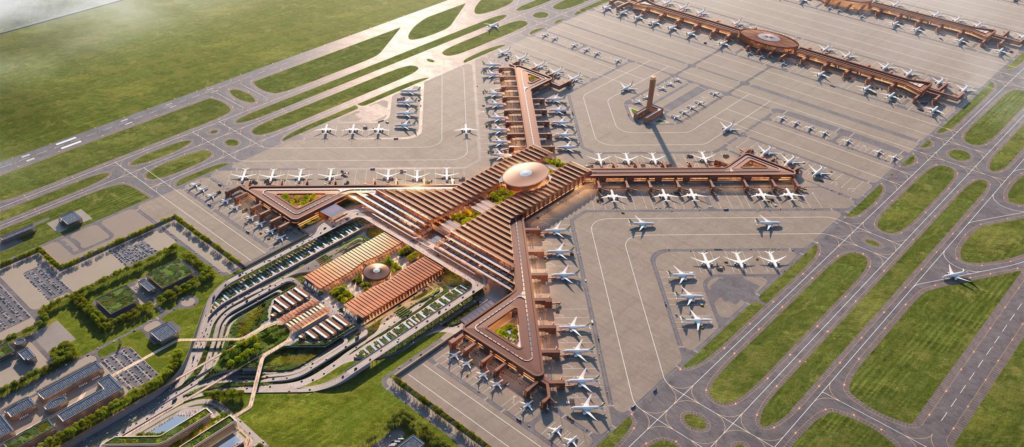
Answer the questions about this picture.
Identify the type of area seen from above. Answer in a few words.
airport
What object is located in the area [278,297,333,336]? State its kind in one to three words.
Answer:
building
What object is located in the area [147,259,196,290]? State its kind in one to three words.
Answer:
building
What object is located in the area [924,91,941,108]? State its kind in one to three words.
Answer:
jet bridge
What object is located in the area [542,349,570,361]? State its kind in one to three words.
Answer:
jet bridge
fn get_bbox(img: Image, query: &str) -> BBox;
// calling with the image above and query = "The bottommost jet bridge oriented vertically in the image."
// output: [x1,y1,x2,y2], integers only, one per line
[538,379,551,410]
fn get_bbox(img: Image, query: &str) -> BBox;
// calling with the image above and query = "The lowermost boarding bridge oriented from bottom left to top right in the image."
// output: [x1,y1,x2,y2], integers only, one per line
[523,380,540,400]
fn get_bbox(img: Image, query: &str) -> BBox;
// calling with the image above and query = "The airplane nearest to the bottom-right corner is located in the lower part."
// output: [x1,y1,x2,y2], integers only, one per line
[942,264,970,281]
